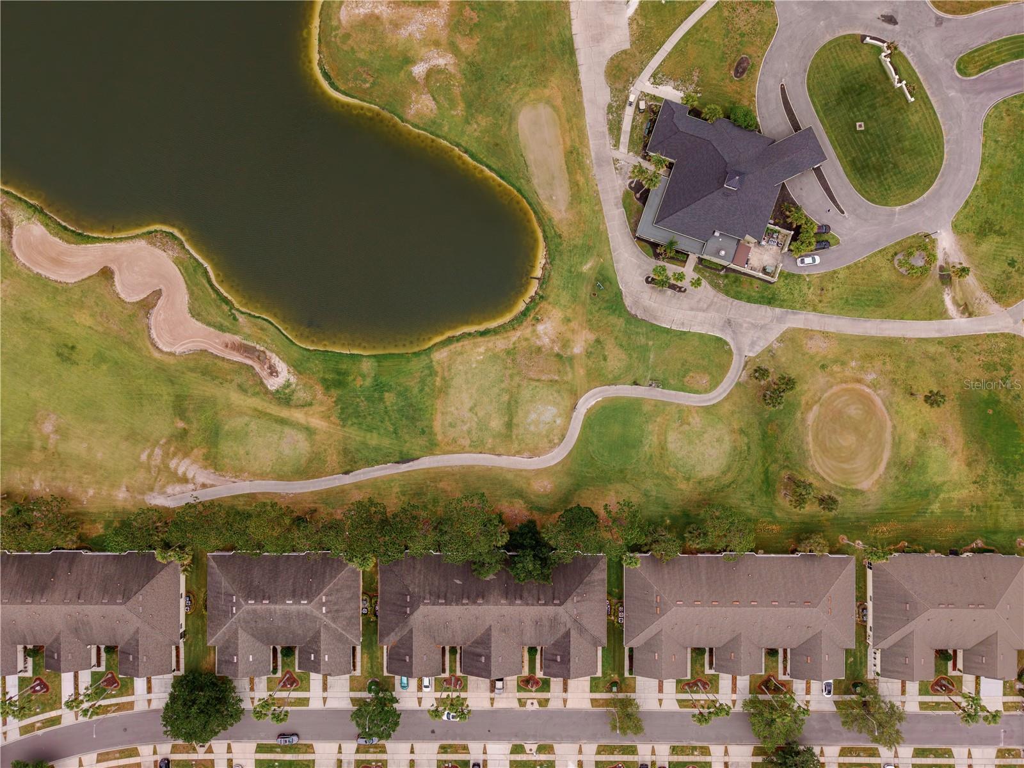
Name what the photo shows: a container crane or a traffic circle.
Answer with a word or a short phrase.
traffic circle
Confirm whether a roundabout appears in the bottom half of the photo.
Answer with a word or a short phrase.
No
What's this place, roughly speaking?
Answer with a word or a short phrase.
residential area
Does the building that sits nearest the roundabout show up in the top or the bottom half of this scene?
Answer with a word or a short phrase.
top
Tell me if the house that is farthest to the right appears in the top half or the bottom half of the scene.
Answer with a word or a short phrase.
bottom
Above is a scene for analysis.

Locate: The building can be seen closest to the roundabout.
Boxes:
[635,99,829,268]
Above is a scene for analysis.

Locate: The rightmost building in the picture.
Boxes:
[867,552,1024,683]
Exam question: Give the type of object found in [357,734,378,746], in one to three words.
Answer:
vehicle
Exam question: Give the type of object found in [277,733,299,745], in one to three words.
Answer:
vehicle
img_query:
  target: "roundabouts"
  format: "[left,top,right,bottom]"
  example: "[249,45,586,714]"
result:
[806,32,946,208]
